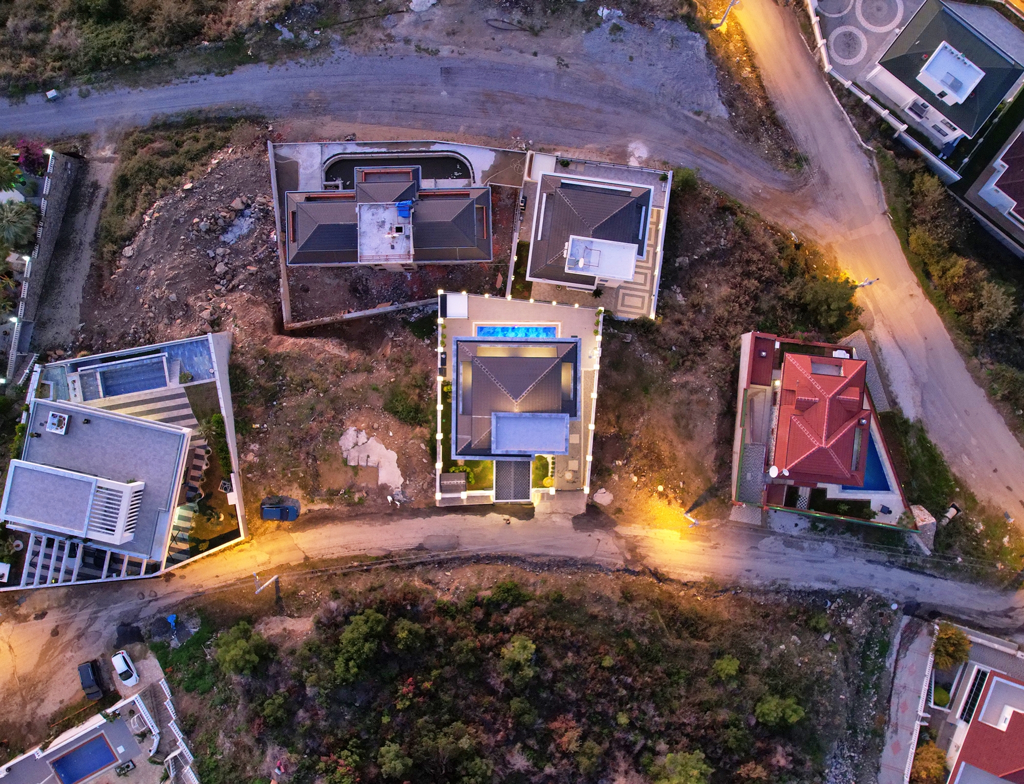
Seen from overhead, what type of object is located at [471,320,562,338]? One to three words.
swimming pool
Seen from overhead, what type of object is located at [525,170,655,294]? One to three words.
house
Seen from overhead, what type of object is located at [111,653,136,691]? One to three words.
car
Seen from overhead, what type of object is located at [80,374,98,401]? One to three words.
swimming pool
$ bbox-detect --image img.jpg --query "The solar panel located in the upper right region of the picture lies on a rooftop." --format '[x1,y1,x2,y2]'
[946,72,968,91]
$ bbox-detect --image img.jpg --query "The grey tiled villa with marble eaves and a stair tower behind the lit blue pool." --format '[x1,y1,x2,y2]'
[451,337,581,461]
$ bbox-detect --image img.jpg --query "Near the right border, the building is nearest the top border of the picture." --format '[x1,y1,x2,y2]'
[858,0,1024,143]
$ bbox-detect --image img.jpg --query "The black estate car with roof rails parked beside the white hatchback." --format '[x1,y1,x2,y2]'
[73,663,100,703]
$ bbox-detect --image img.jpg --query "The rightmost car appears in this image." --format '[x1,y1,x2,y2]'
[258,504,298,523]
